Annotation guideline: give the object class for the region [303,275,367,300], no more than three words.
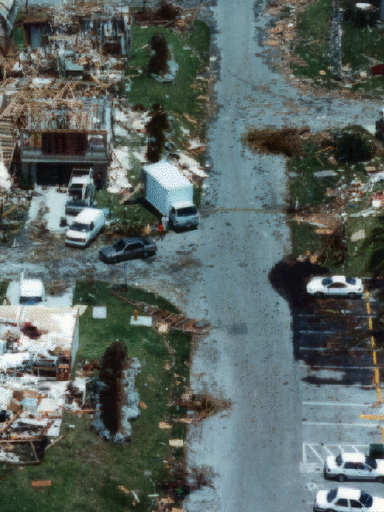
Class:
car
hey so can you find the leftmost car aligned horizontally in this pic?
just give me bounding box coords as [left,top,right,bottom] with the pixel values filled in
[97,237,159,264]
